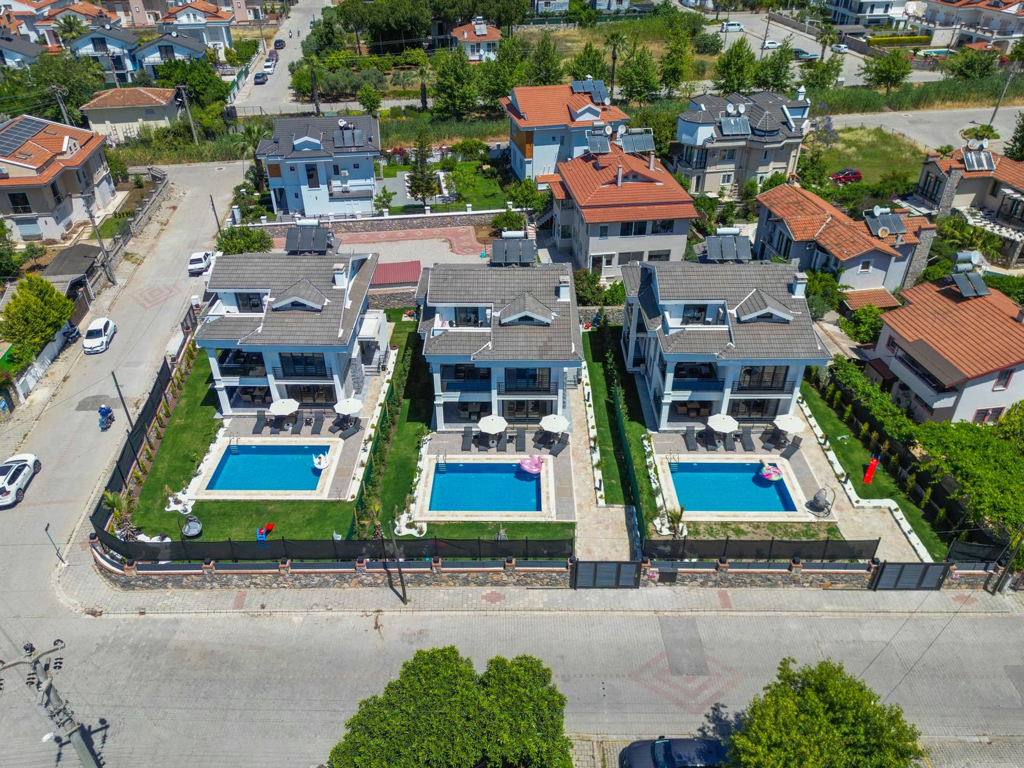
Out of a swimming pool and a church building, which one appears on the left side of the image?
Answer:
swimming pool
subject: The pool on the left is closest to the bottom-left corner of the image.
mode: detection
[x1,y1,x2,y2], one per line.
[188,431,345,498]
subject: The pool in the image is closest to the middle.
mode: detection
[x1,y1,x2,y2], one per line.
[414,448,556,519]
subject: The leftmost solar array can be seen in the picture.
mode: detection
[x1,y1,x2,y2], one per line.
[0,111,61,149]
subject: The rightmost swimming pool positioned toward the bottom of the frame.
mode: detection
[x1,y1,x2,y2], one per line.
[656,448,816,519]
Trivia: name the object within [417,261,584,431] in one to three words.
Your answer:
house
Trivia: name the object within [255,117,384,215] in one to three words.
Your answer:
house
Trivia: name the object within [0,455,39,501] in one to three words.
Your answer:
car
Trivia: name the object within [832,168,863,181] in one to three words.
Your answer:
vehicle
